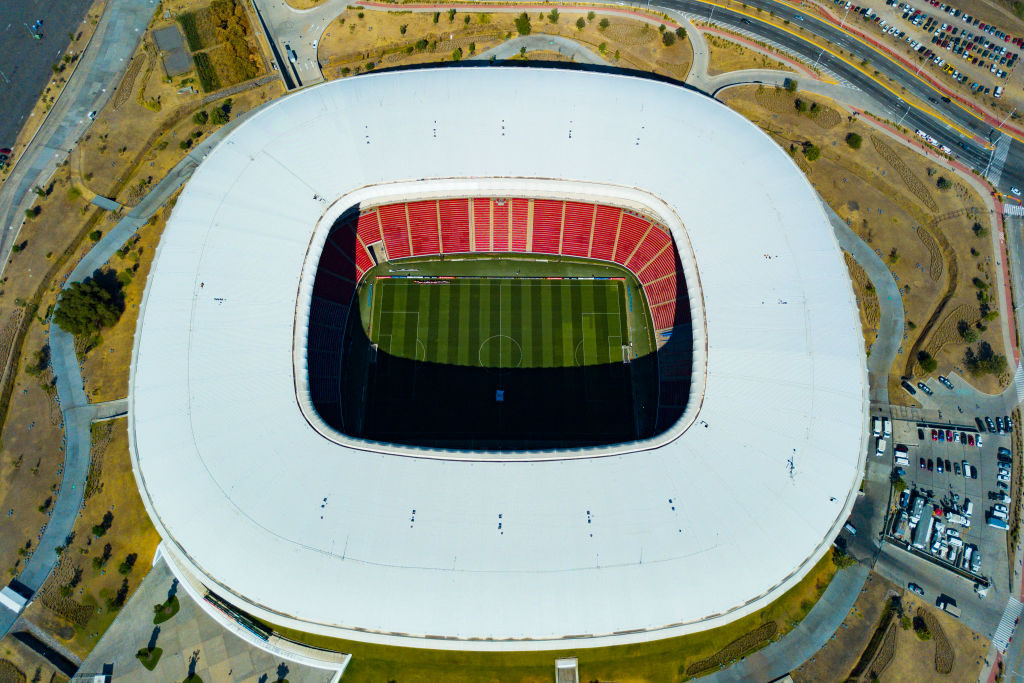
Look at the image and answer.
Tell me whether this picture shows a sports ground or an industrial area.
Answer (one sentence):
The picture captures a sports ground.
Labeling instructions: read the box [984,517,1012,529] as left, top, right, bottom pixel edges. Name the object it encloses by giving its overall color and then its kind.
blue vehicle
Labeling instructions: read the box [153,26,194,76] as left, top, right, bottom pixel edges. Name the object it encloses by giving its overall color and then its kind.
gray sports court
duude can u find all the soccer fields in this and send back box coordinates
[359,275,639,444]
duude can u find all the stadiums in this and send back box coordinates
[126,65,871,651]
